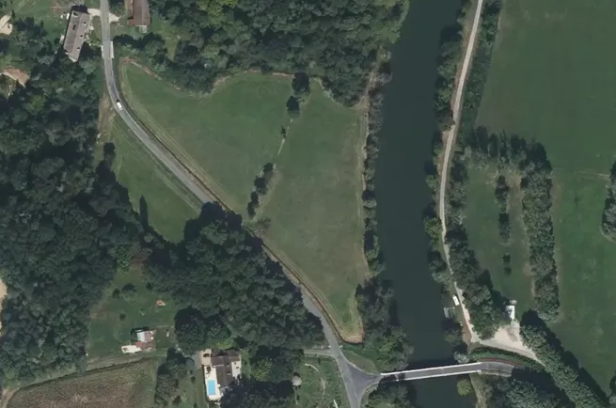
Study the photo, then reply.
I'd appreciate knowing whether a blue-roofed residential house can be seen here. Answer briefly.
No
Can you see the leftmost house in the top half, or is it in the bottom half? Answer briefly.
top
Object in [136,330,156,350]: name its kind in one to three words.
house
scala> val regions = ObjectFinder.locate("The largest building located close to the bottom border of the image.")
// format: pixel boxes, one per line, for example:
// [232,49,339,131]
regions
[210,350,240,390]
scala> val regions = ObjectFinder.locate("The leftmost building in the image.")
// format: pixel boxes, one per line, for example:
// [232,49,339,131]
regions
[64,8,89,61]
